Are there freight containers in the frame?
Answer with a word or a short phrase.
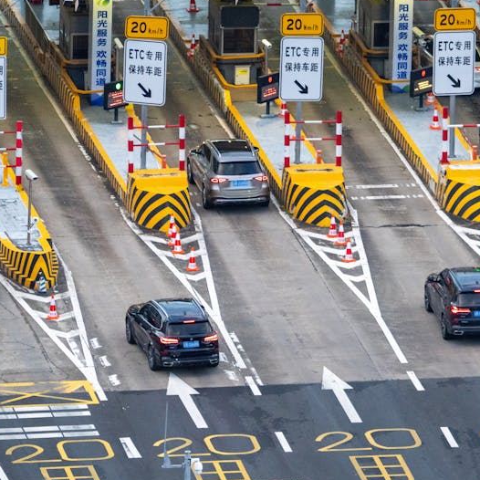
No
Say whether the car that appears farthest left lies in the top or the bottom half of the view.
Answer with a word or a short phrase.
bottom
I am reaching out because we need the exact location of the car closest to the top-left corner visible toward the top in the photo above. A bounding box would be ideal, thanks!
[190,143,266,208]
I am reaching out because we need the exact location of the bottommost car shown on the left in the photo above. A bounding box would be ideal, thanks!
[125,300,218,370]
